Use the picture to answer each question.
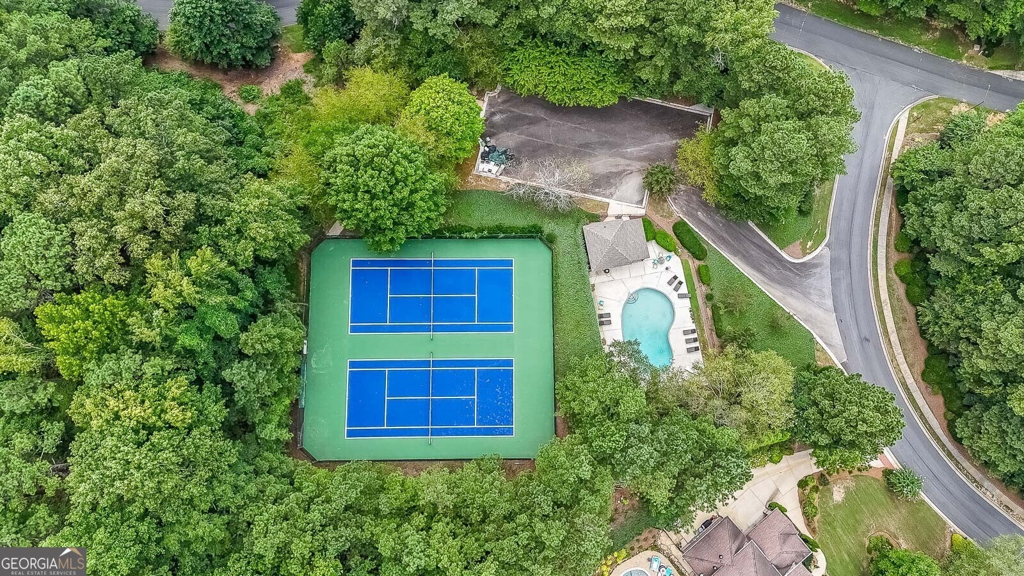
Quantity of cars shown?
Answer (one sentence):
I count no cars.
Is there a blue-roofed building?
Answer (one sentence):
No, the frame has no blue-roofed building in it.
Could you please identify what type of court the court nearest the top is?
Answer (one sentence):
It looks like the court nearest the top is a tennis court.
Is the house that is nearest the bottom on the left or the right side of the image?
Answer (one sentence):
The house that is nearest the bottom sits on the right side.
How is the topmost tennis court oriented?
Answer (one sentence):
I'd say the topmost tennis court is aligned from left to right in the picture.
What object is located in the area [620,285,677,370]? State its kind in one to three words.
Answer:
swimming pool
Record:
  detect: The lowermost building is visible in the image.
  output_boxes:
[681,508,812,576]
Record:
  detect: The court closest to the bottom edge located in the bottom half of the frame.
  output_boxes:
[345,358,515,439]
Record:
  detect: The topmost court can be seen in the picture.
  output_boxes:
[348,258,515,334]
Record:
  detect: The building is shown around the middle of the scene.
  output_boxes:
[583,218,649,271]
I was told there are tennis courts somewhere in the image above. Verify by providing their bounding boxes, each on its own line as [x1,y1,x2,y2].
[348,258,515,334]
[345,358,515,439]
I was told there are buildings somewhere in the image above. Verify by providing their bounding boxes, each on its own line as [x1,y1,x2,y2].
[681,508,812,576]
[583,218,649,271]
